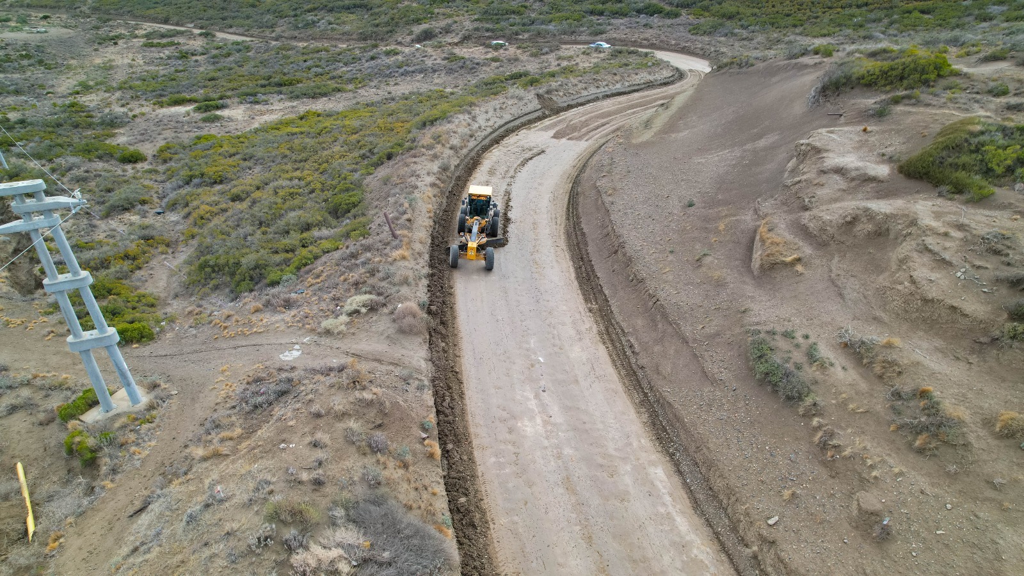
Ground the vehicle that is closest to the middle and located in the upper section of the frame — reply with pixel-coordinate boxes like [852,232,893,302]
[446,185,506,271]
